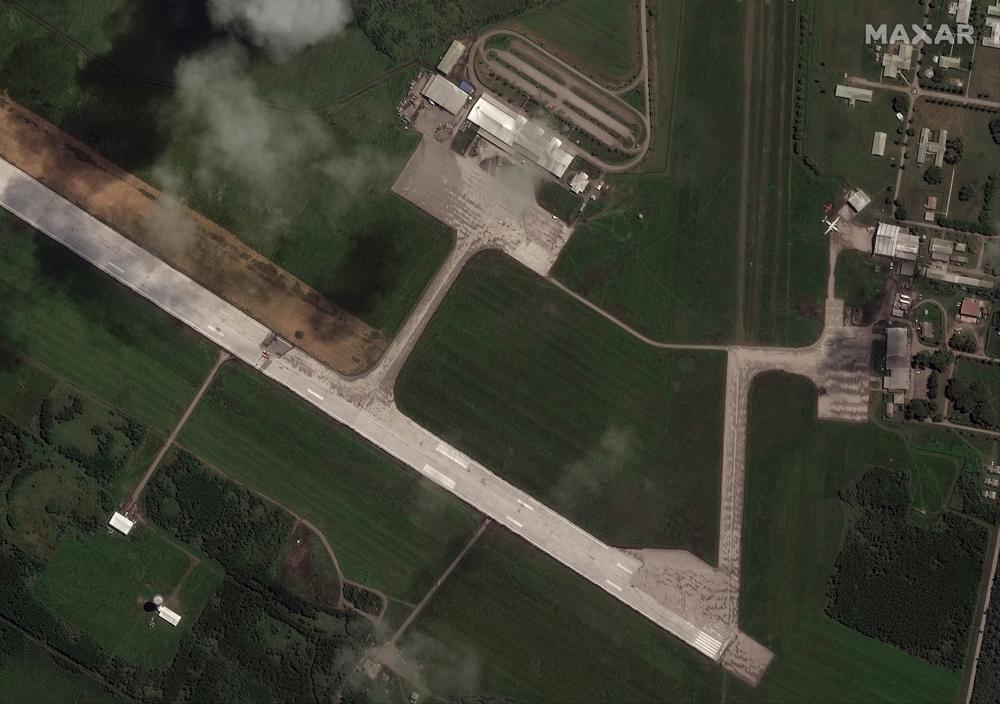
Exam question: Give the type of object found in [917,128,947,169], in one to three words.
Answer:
house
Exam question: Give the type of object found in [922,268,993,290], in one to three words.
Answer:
shed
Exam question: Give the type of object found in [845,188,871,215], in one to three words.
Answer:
hangar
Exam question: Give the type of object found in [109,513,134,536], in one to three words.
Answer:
building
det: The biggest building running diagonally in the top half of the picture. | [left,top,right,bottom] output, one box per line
[468,93,578,181]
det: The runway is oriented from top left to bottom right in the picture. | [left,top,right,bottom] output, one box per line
[0,157,732,659]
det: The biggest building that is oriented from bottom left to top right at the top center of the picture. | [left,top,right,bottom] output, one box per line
[438,40,465,77]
